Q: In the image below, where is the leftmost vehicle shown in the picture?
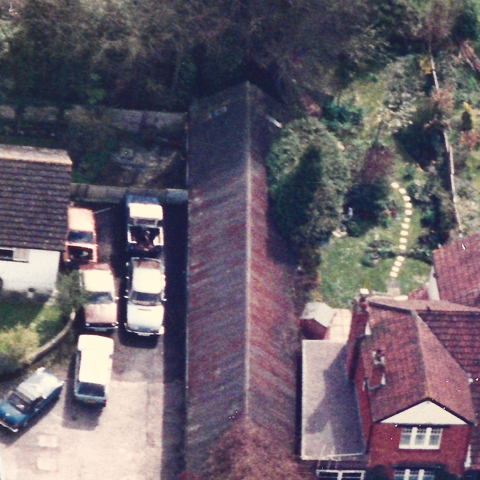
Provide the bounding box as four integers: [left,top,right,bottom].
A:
[0,371,70,437]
